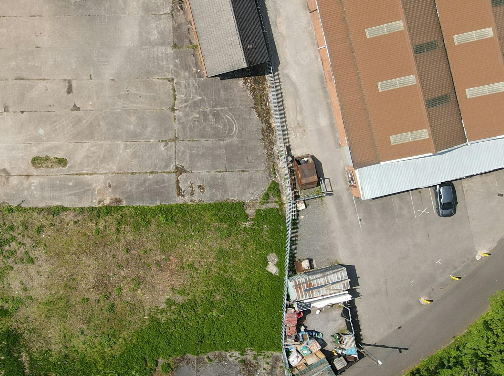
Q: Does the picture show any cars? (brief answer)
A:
Yes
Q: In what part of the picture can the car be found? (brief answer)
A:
right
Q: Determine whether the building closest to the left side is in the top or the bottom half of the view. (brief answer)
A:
top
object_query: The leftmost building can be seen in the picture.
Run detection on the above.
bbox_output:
[185,0,270,78]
